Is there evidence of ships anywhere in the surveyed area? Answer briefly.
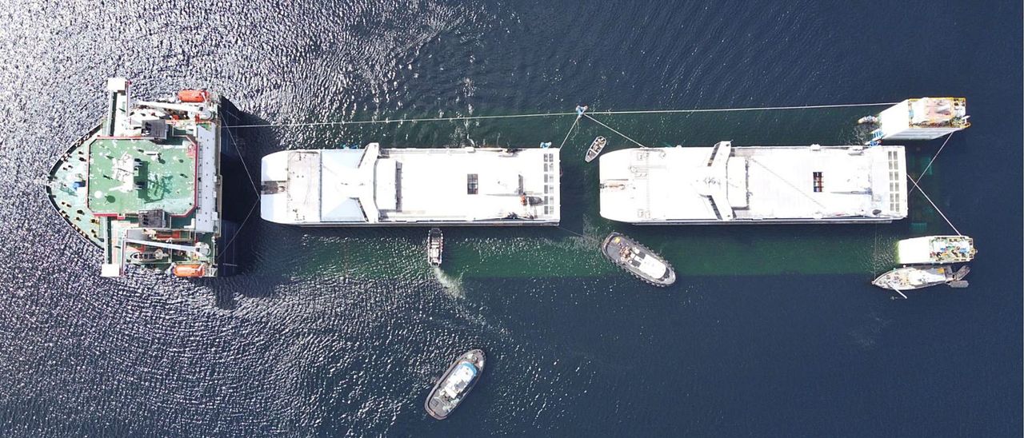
Yes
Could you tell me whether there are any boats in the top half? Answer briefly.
Yes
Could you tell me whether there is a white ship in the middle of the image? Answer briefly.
Yes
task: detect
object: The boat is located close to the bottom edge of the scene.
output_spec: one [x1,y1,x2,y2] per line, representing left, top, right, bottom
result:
[425,348,485,420]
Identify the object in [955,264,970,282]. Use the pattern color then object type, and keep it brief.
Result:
gray boat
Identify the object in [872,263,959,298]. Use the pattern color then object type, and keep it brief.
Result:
white boat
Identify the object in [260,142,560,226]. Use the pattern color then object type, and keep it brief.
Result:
white ship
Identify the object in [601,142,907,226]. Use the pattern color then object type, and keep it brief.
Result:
white ship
